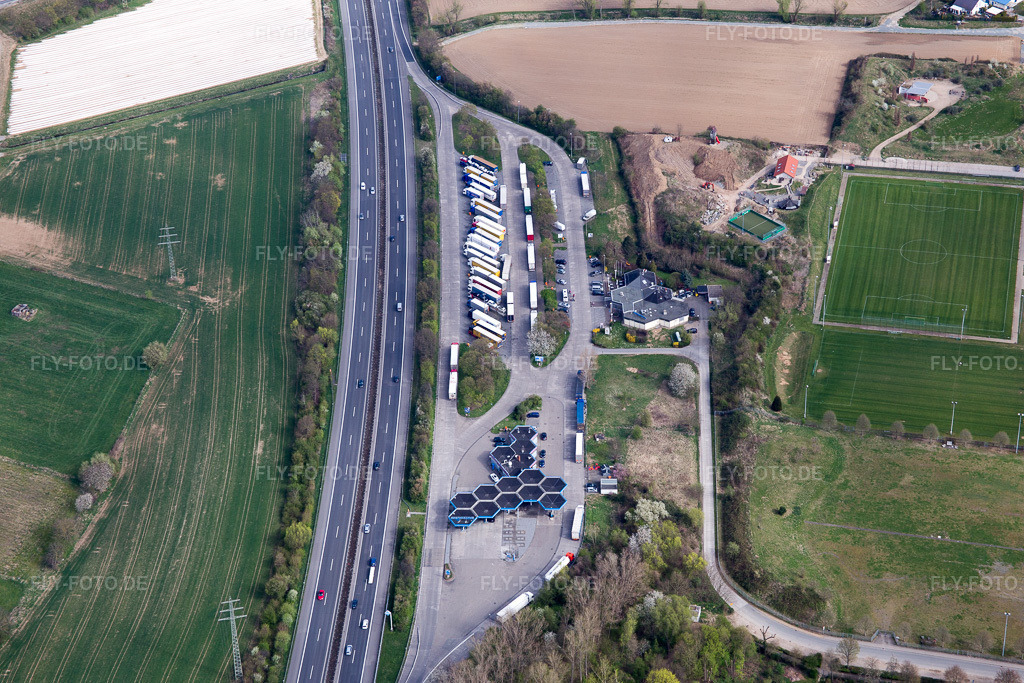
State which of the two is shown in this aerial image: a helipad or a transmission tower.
transmission tower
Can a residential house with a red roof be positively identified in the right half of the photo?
Yes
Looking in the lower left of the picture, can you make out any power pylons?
Yes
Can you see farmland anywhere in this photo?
Yes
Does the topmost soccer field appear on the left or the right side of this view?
right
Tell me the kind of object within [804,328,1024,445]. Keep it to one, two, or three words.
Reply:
sports field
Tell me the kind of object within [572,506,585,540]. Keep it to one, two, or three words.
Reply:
vehicle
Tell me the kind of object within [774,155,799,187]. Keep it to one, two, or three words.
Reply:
house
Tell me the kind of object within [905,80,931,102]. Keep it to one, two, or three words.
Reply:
barn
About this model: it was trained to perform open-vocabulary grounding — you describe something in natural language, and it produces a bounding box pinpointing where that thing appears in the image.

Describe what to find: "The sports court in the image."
[726,206,789,242]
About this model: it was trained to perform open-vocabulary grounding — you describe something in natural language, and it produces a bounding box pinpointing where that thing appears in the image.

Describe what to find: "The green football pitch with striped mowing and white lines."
[812,176,1024,339]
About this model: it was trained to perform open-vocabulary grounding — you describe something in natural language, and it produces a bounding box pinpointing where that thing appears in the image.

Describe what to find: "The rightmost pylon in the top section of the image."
[156,217,183,282]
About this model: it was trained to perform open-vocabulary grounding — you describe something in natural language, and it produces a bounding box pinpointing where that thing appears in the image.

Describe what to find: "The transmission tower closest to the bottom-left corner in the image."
[215,603,249,683]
